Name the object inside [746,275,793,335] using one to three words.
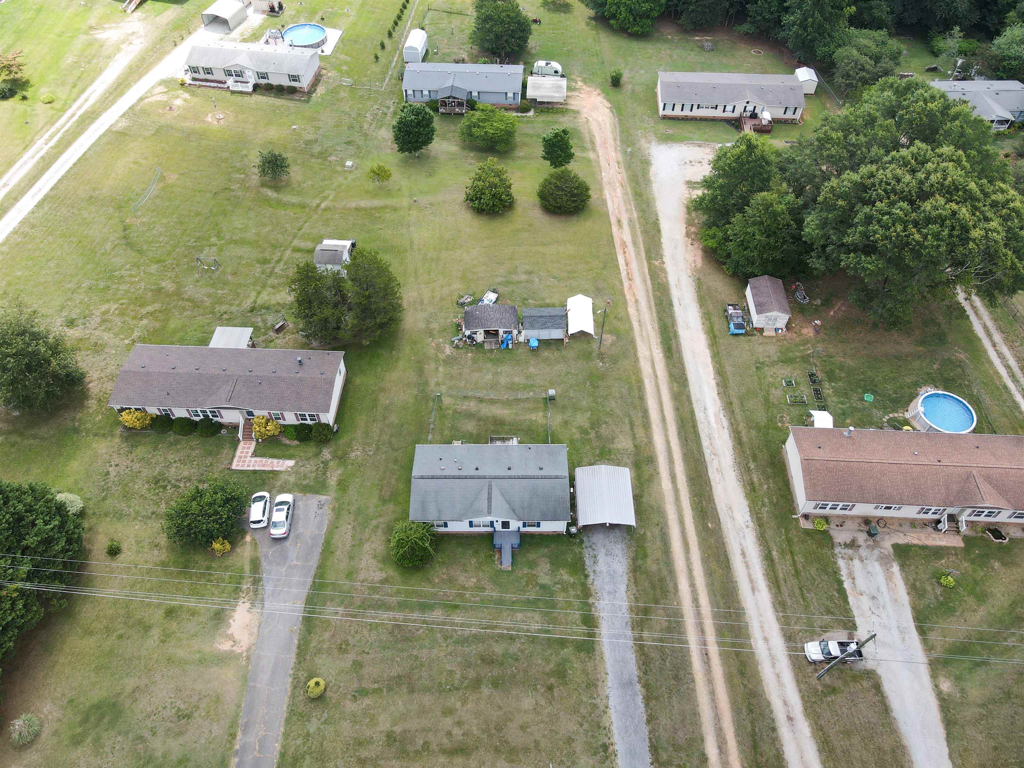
shed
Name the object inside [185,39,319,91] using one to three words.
house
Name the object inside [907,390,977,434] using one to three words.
swimming pool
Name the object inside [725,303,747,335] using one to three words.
truck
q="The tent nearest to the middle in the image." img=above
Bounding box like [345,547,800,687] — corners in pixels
[569,294,596,347]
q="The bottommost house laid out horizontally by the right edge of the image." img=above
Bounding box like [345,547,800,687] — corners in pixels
[783,426,1024,534]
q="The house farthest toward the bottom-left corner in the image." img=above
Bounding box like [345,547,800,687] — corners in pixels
[107,345,345,441]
